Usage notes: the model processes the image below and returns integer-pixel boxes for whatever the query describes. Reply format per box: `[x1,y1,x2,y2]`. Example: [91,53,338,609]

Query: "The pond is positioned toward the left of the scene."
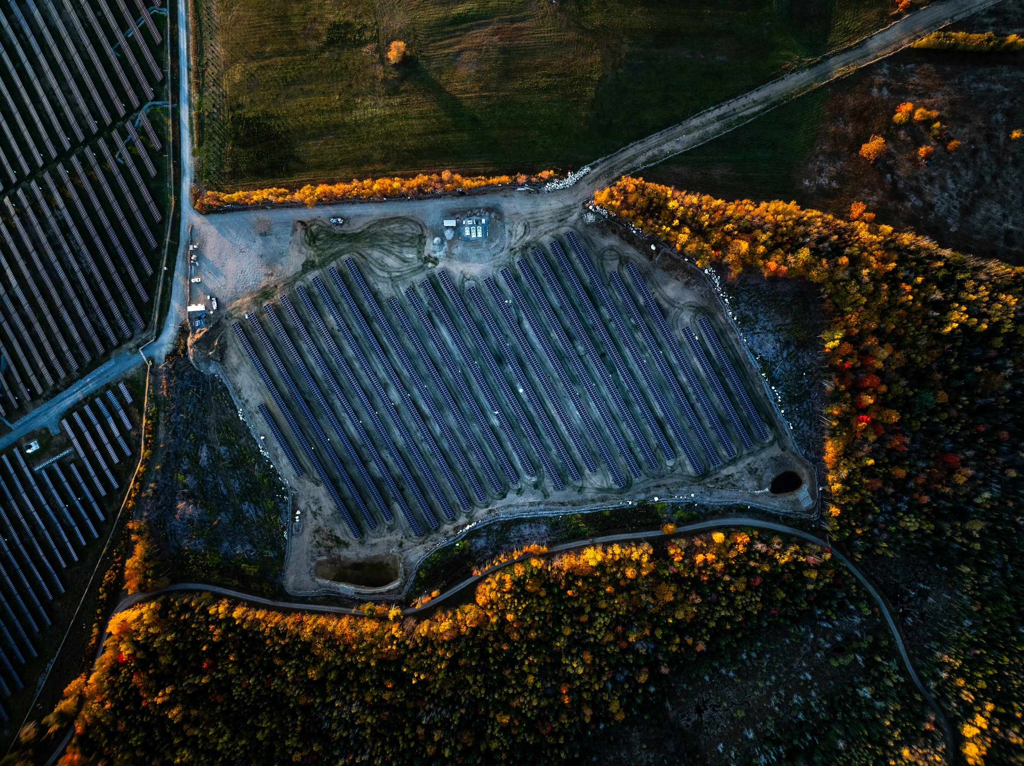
[313,555,401,588]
